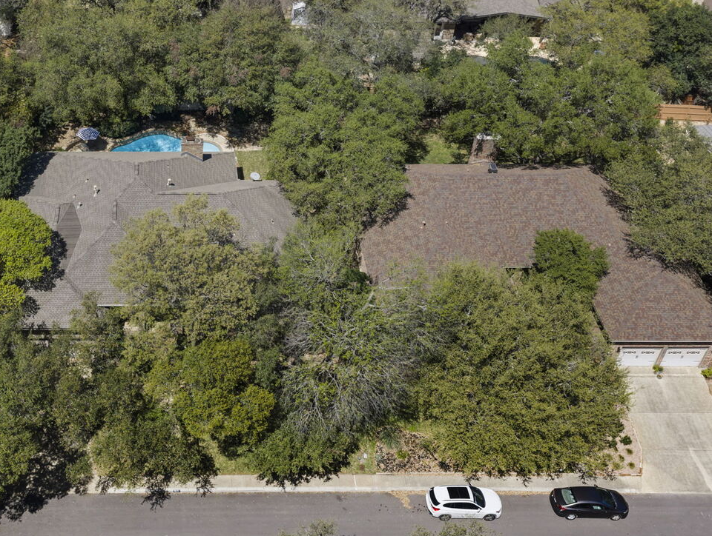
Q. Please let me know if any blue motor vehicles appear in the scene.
No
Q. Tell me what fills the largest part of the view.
trees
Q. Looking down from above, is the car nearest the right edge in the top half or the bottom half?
bottom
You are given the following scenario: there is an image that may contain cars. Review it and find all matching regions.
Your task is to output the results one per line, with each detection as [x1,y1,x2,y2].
[549,482,632,521]
[426,482,504,521]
